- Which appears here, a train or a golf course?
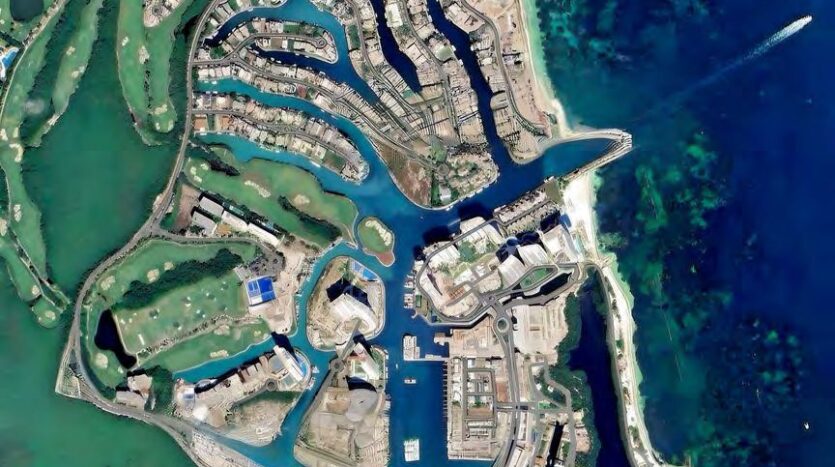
golf course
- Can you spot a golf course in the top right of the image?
No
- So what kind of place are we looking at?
port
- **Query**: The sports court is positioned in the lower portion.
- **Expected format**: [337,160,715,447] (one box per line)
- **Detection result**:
[245,274,276,307]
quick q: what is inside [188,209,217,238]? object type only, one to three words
building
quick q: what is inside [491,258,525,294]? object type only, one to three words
building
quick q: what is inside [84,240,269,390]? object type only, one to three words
golf course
